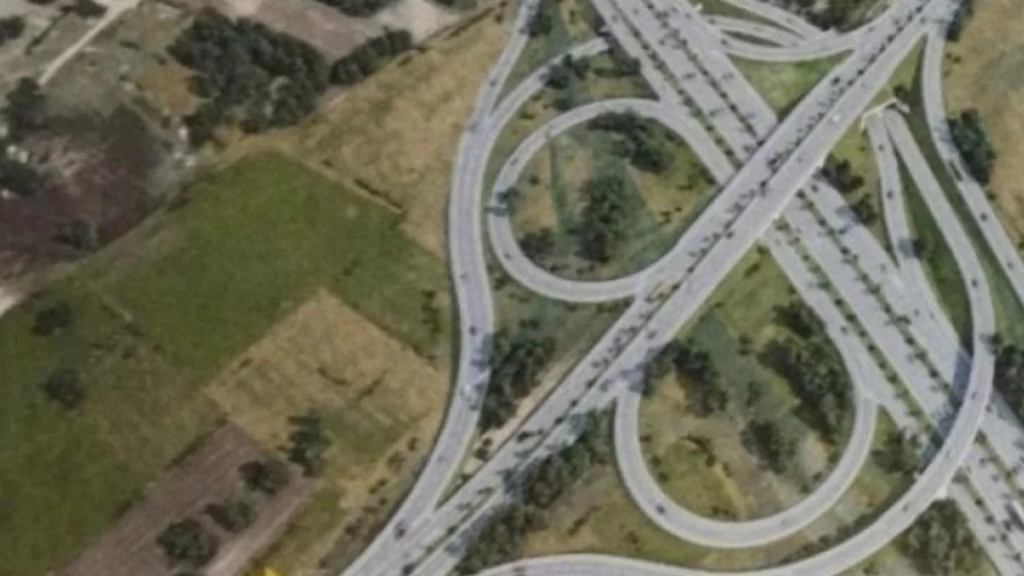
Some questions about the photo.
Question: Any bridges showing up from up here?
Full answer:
Yes, this view includes a bridge.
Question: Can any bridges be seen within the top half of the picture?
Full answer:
Yes, a bridge can be seen within the top half of the picture.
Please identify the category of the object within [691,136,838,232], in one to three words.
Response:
bridge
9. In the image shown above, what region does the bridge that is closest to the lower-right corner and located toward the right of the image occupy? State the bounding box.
[907,348,995,495]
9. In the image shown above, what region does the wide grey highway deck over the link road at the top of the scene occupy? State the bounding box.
[593,0,715,41]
